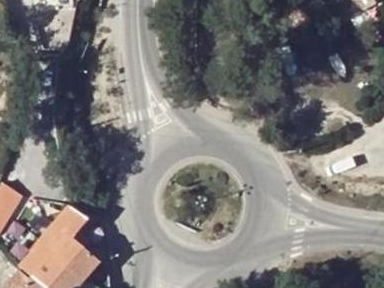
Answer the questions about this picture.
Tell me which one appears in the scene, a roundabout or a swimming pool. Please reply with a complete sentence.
The image shows a roundabout.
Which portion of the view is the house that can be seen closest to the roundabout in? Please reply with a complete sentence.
The house that can be seen closest to the roundabout appears toward the bottom left of the photo.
